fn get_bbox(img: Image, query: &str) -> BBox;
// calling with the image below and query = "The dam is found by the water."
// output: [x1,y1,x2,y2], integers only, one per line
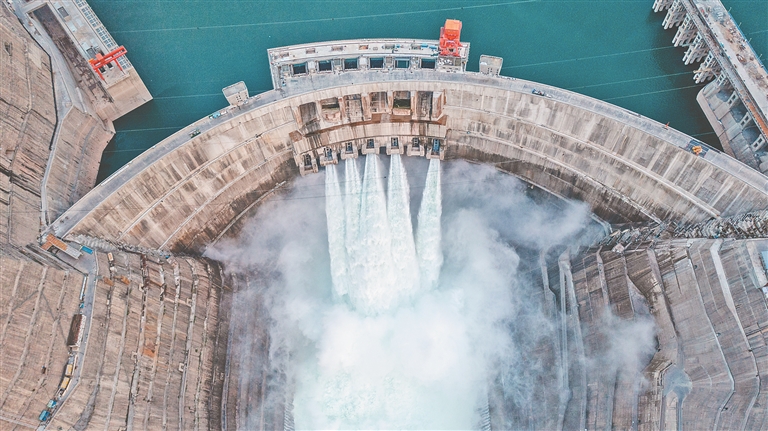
[42,35,768,265]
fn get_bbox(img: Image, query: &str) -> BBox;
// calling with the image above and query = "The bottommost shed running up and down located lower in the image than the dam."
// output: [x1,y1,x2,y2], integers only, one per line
[68,313,88,348]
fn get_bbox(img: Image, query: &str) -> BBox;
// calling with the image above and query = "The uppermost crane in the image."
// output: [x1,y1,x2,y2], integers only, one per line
[439,24,460,58]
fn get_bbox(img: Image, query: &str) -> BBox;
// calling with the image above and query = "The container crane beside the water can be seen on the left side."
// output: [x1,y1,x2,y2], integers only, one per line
[86,45,130,85]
